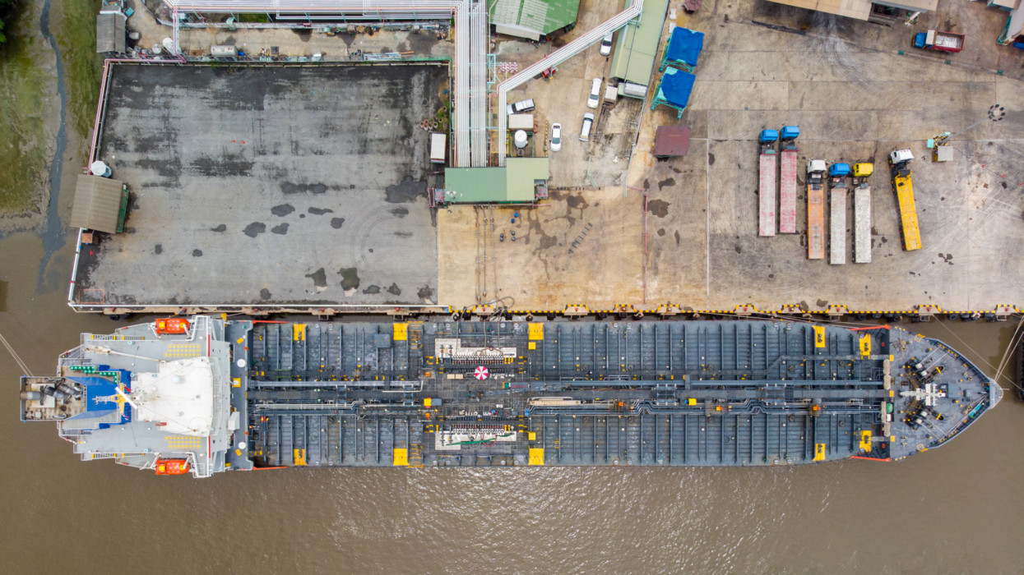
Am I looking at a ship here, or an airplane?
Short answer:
ship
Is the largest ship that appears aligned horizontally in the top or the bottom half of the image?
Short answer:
bottom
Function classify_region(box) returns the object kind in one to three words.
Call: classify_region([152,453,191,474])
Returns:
boat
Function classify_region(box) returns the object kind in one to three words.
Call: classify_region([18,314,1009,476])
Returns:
ship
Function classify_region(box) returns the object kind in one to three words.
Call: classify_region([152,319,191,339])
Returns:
boat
